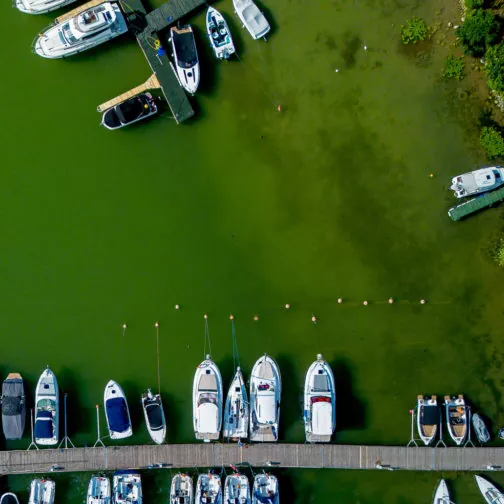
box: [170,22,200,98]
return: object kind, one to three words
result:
boat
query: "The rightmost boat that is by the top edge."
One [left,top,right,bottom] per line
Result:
[234,0,270,41]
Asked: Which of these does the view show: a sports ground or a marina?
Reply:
marina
